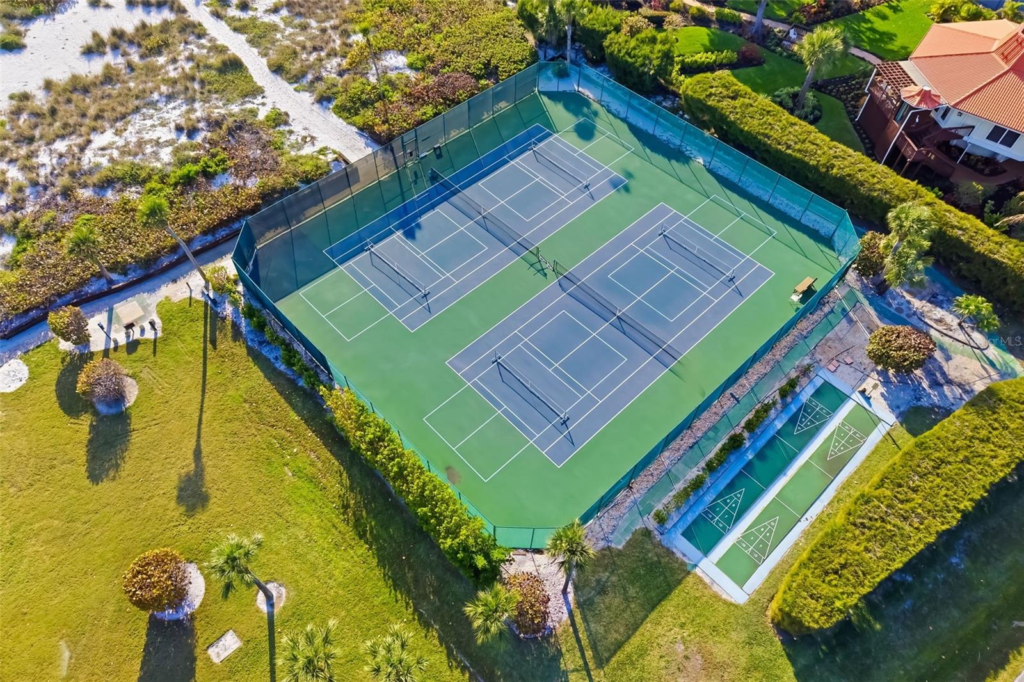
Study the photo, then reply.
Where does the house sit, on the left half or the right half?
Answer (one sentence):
You can find the house on the right side of the picture.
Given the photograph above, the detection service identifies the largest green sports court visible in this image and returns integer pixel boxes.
[248,91,843,550]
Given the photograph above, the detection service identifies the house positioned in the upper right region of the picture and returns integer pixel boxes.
[853,18,1024,198]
